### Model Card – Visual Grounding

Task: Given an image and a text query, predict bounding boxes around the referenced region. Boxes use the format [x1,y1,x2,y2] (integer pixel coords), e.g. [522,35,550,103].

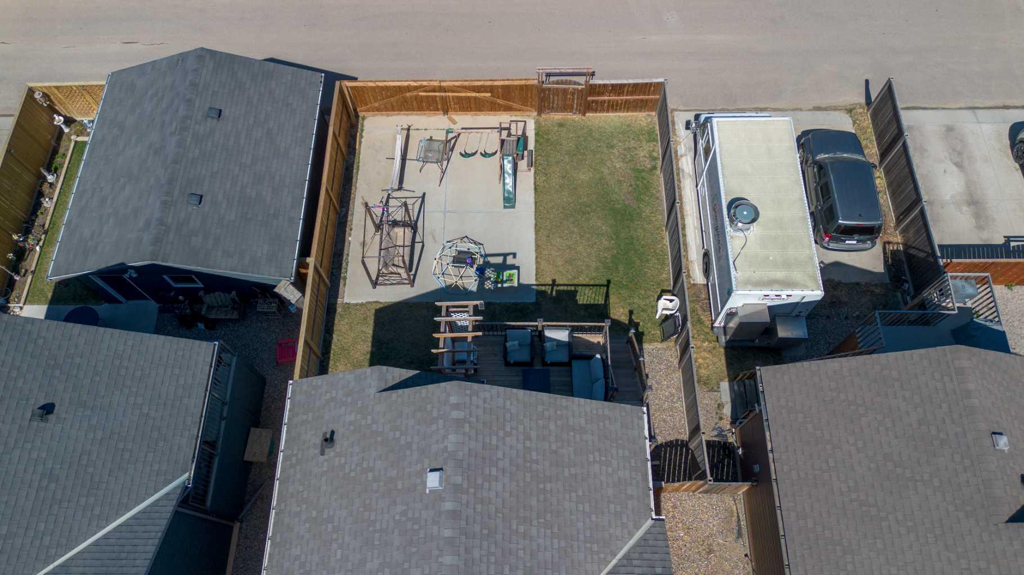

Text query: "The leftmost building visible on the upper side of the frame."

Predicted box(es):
[47,46,327,307]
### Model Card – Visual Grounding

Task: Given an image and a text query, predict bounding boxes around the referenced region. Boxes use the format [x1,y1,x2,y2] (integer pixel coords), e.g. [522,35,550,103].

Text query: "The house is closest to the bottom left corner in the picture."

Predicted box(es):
[0,313,261,575]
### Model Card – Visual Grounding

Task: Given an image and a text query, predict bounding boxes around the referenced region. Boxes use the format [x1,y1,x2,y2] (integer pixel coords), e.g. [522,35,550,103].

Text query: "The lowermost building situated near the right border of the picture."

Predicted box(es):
[727,344,1024,575]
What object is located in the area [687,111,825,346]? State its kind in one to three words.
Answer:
truck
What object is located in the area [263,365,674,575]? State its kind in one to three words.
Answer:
house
